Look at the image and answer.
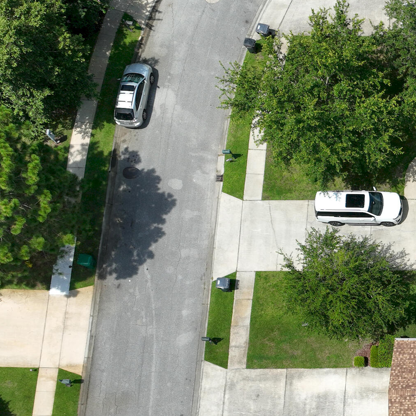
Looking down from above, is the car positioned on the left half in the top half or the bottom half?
top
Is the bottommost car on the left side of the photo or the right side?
right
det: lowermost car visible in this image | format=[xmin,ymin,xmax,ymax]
[313,185,404,229]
